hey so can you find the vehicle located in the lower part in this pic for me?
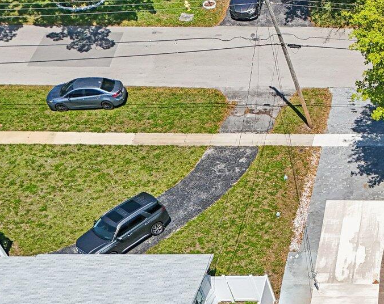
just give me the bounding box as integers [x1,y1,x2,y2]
[69,187,175,254]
